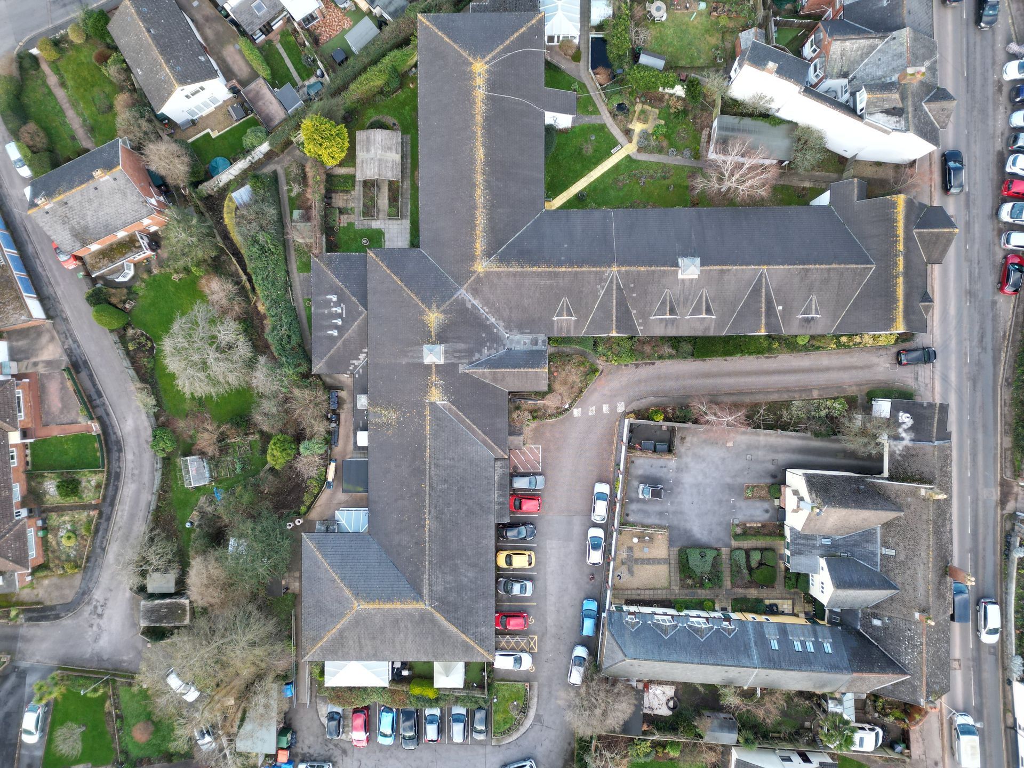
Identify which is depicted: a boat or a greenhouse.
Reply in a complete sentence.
It is a greenhouse that can be seen here.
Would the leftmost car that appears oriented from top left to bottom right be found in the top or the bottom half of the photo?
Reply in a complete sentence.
Seen from above, the leftmost car that appears oriented from top left to bottom right lies in the top half of the view.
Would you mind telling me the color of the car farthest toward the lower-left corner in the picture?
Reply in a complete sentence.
From above, the car farthest toward the lower-left corner appears white.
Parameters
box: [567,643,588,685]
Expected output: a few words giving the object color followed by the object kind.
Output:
white car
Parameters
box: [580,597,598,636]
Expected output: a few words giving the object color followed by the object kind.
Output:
blue car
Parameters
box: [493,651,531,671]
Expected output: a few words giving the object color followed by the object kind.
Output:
white car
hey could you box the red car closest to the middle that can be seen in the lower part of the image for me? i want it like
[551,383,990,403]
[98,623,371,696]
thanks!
[510,494,542,513]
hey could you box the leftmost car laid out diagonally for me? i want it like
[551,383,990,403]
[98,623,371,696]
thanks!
[5,141,37,180]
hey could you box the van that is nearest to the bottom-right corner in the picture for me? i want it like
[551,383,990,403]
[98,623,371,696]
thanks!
[953,714,982,768]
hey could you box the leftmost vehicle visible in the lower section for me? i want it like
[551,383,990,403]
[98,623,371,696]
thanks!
[21,702,47,742]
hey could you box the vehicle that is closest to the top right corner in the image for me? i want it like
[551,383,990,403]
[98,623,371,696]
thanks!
[975,0,999,32]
